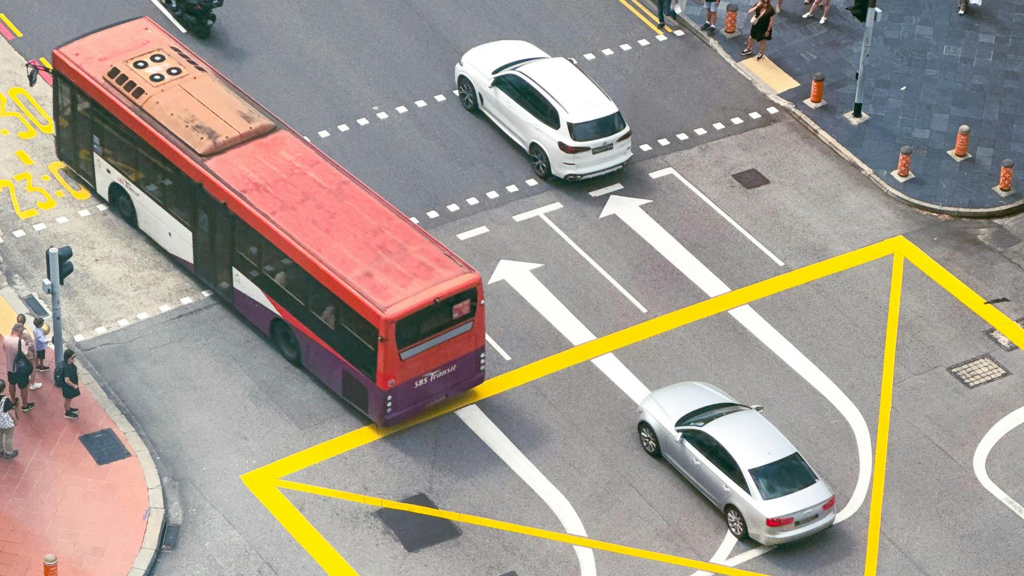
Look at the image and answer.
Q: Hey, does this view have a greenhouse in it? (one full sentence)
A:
No, the photo shows no greenhouse.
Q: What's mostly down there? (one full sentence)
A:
The scene is dominated by paved ground.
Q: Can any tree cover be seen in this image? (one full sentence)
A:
No, there's no tree cover in this view.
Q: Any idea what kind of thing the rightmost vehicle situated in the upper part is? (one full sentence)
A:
The rightmost vehicle situated in the upper part can be classified as an automobile.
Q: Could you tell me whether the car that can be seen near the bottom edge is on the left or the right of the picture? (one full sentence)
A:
The car that can be seen near the bottom edge sits on the right side.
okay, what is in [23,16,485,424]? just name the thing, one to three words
bus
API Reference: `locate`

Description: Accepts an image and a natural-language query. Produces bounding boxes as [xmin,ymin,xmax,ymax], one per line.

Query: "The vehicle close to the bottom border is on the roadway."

[635,378,837,548]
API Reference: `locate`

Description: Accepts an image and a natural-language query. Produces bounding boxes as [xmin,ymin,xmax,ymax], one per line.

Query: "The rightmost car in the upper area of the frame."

[453,36,635,180]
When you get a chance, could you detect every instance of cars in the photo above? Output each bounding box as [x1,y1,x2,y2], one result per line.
[453,36,635,180]
[635,378,837,548]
